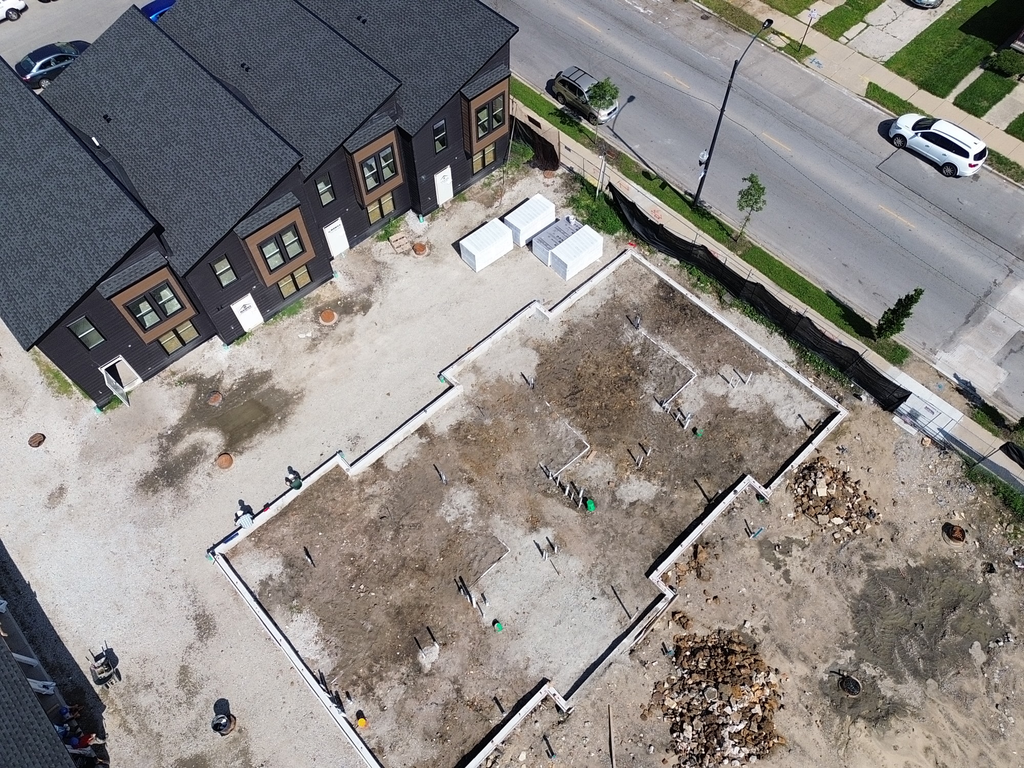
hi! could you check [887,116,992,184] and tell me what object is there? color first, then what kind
white car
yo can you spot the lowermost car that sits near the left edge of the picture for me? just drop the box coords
[10,39,93,86]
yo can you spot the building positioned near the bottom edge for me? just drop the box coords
[0,581,107,768]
